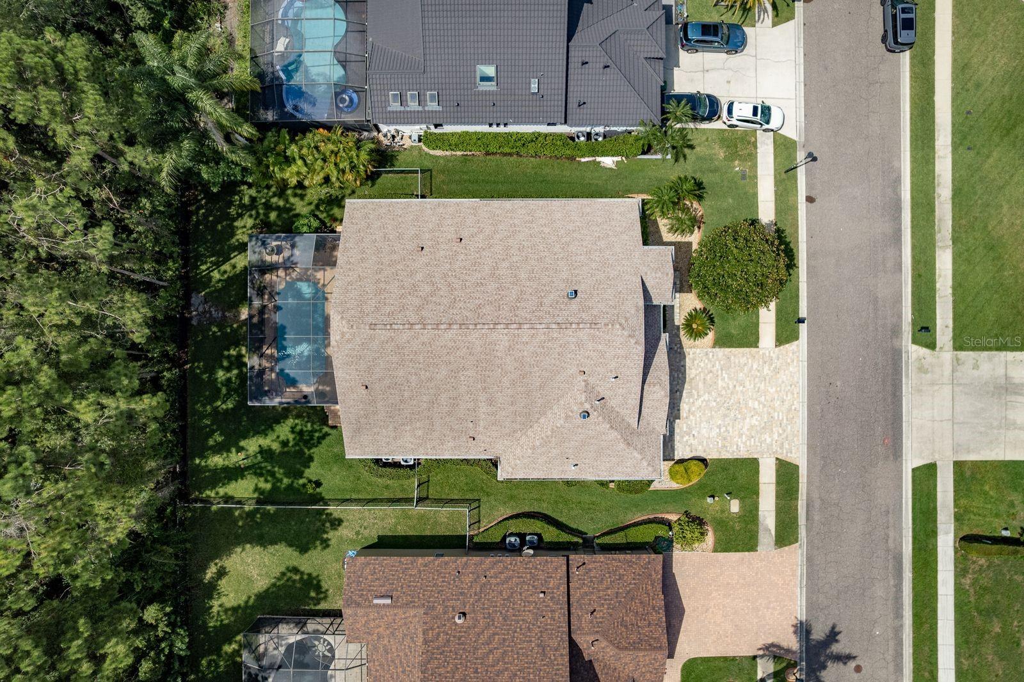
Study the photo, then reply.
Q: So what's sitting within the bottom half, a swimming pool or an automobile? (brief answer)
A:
swimming pool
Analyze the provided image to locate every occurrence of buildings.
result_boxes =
[330,198,678,480]
[339,545,670,682]
[360,0,665,133]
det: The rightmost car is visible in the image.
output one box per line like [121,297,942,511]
[882,0,922,51]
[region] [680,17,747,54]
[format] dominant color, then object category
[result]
blue car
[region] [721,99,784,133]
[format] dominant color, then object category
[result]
white car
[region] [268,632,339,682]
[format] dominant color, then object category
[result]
gray swimming pool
